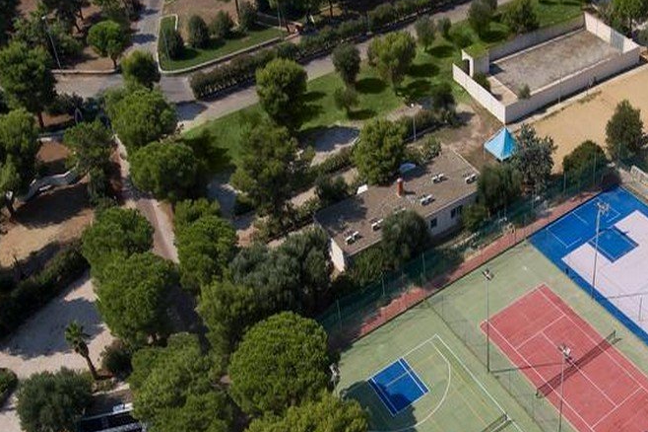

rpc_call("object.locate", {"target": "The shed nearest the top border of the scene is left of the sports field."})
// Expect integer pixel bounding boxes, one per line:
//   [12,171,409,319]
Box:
[445,44,489,79]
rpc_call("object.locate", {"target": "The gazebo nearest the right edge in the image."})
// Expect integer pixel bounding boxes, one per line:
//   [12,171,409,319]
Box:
[484,132,511,162]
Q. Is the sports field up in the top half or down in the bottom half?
top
